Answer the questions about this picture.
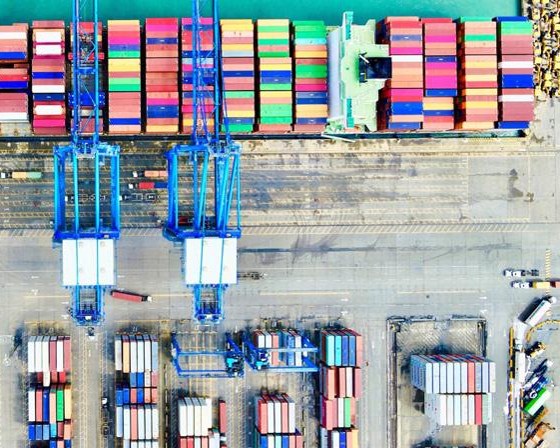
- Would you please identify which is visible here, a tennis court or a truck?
truck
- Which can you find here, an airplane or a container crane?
container crane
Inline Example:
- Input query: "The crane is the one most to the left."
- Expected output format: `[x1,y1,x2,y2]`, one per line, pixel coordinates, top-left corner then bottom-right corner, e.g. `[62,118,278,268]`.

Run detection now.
[51,0,122,327]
